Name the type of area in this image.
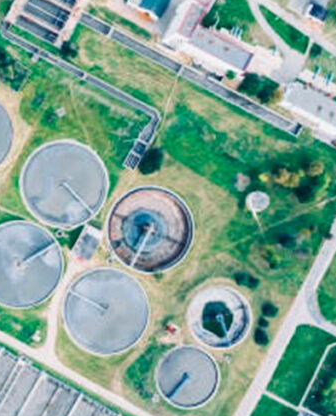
industrial area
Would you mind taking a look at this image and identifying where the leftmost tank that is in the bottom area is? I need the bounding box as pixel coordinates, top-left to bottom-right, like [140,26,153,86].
[0,221,63,309]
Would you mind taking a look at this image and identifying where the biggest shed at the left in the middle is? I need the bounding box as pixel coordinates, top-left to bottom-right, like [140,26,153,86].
[76,233,101,261]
